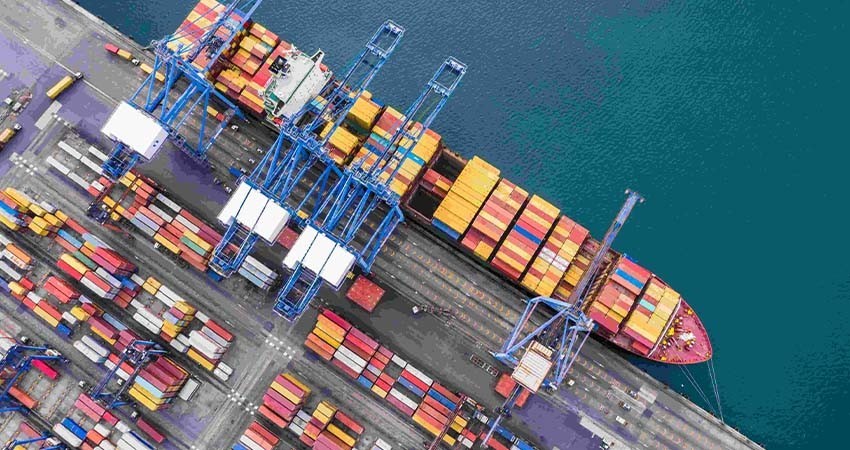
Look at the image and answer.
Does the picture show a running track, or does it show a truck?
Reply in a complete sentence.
Visible in the photo is a truck.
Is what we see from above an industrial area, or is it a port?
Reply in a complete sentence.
It's a port.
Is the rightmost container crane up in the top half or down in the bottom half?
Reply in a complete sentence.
The rightmost container crane is in the bottom half of the image.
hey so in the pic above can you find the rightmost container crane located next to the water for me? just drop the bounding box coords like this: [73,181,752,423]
[480,188,648,443]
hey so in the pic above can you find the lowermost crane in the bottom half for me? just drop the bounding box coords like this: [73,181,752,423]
[5,428,66,450]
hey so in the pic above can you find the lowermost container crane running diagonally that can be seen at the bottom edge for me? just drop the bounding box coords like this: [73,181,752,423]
[417,389,475,450]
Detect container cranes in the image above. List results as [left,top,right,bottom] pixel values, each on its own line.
[85,0,259,195]
[417,389,475,450]
[204,17,409,280]
[480,188,648,443]
[90,337,174,411]
[266,54,471,325]
[82,169,167,242]
[0,342,63,413]
[5,428,66,450]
